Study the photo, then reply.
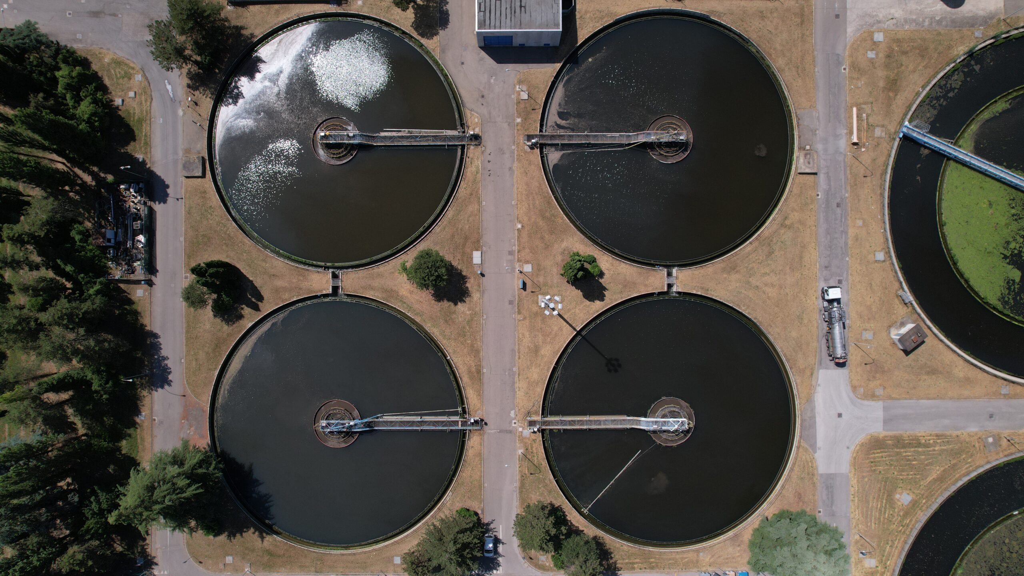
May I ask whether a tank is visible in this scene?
Yes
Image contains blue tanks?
No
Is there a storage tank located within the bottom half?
Yes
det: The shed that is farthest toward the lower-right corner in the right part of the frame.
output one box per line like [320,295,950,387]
[890,323,929,353]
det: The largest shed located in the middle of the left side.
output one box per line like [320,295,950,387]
[91,229,119,246]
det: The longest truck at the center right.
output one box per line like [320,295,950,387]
[820,285,847,362]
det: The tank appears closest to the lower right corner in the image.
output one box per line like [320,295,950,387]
[541,291,802,552]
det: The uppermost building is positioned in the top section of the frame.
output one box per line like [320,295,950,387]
[475,0,562,49]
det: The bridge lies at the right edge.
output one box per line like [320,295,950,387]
[896,118,1024,190]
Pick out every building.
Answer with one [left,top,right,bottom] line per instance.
[475,0,562,49]
[890,323,929,353]
[91,229,119,246]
